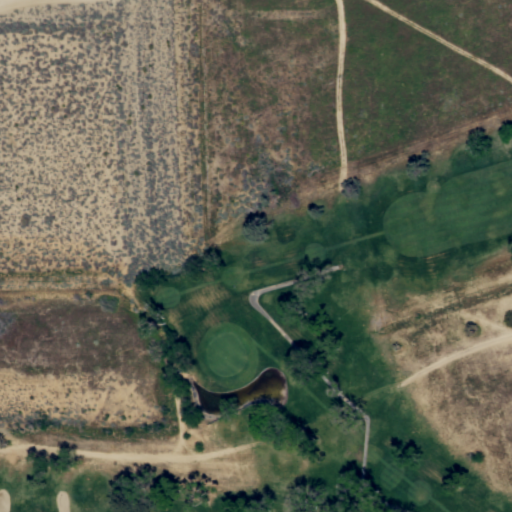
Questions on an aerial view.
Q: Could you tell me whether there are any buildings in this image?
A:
No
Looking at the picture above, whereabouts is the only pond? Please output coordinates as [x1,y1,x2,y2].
[194,370,285,413]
